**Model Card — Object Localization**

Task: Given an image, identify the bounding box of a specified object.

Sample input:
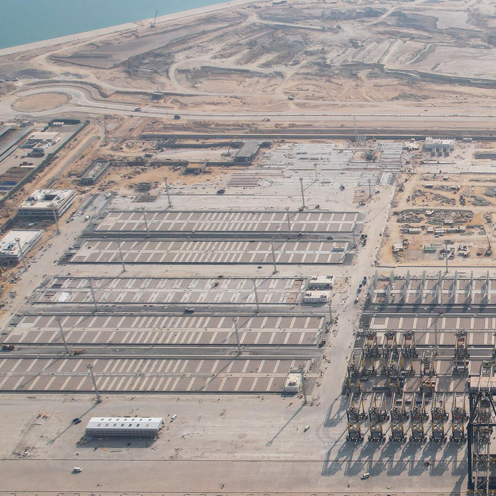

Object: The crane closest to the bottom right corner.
[466,359,496,496]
